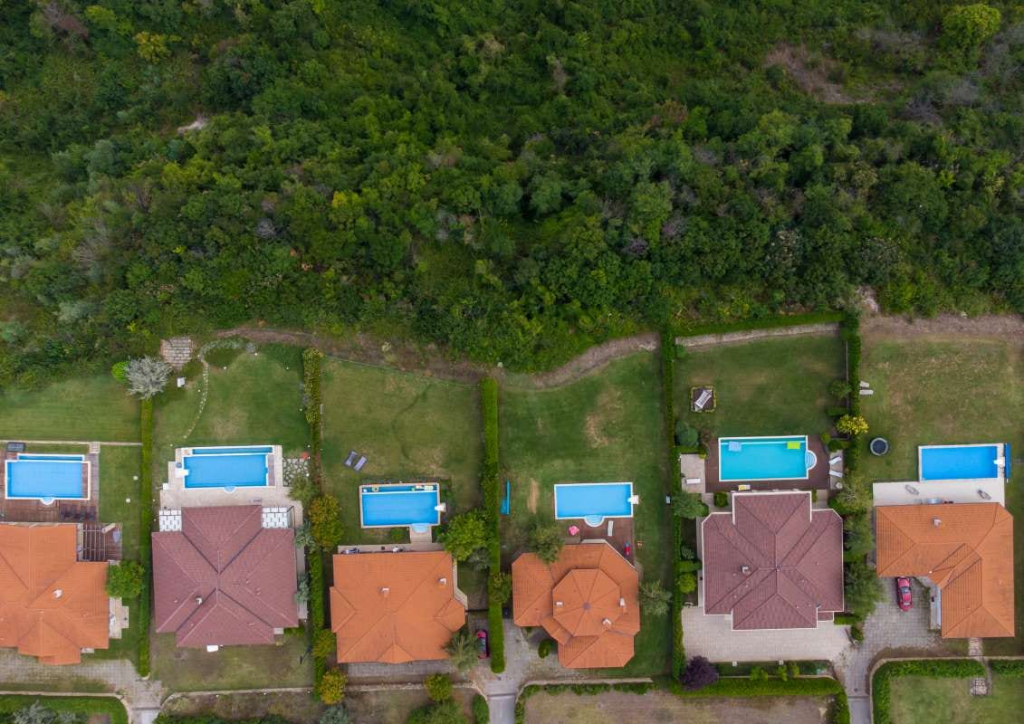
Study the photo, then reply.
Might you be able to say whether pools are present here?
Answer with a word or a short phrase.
Yes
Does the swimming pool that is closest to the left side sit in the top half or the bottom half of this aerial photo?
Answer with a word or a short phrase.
bottom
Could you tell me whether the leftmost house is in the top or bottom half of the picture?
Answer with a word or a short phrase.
bottom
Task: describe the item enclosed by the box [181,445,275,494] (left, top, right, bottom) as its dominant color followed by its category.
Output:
blue swimming pool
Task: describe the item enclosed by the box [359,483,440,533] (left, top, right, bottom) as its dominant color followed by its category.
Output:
blue swimming pool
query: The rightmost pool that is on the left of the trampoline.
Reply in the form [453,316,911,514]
[719,435,818,482]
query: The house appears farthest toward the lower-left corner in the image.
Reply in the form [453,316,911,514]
[0,523,115,665]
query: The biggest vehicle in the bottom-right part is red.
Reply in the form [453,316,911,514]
[893,577,911,609]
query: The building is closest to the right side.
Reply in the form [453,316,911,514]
[872,502,1015,638]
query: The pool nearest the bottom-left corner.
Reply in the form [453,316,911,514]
[5,454,91,507]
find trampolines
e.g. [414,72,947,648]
[870,438,887,455]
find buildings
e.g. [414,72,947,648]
[872,502,1015,638]
[512,543,640,669]
[329,552,466,665]
[702,491,844,631]
[152,504,299,654]
[0,523,115,665]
